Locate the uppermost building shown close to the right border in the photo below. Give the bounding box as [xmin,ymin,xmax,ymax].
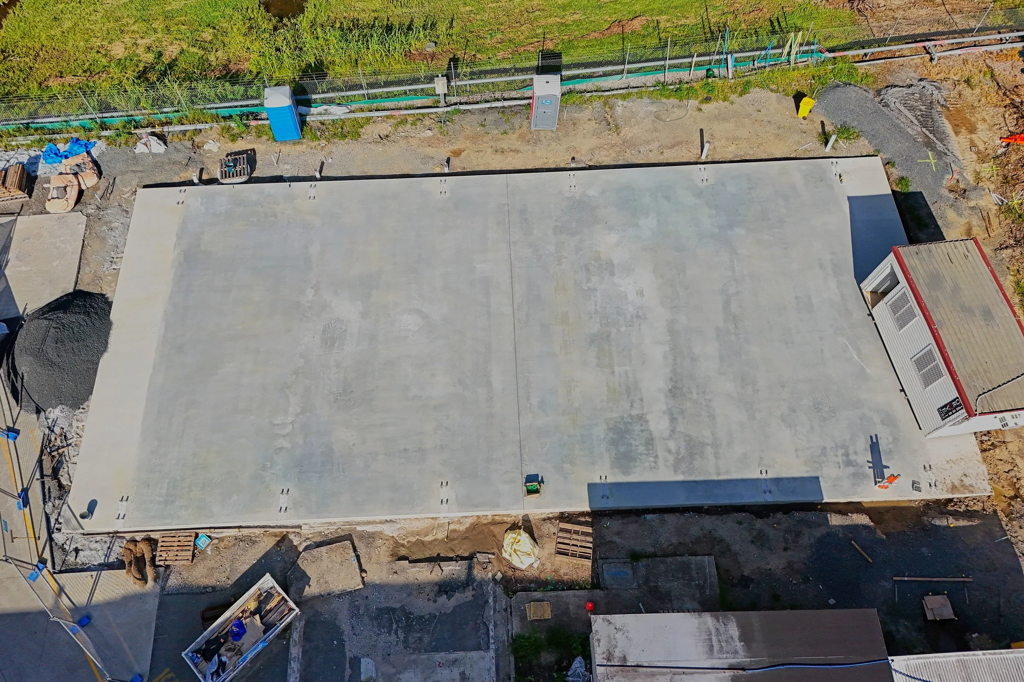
[859,233,1024,438]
